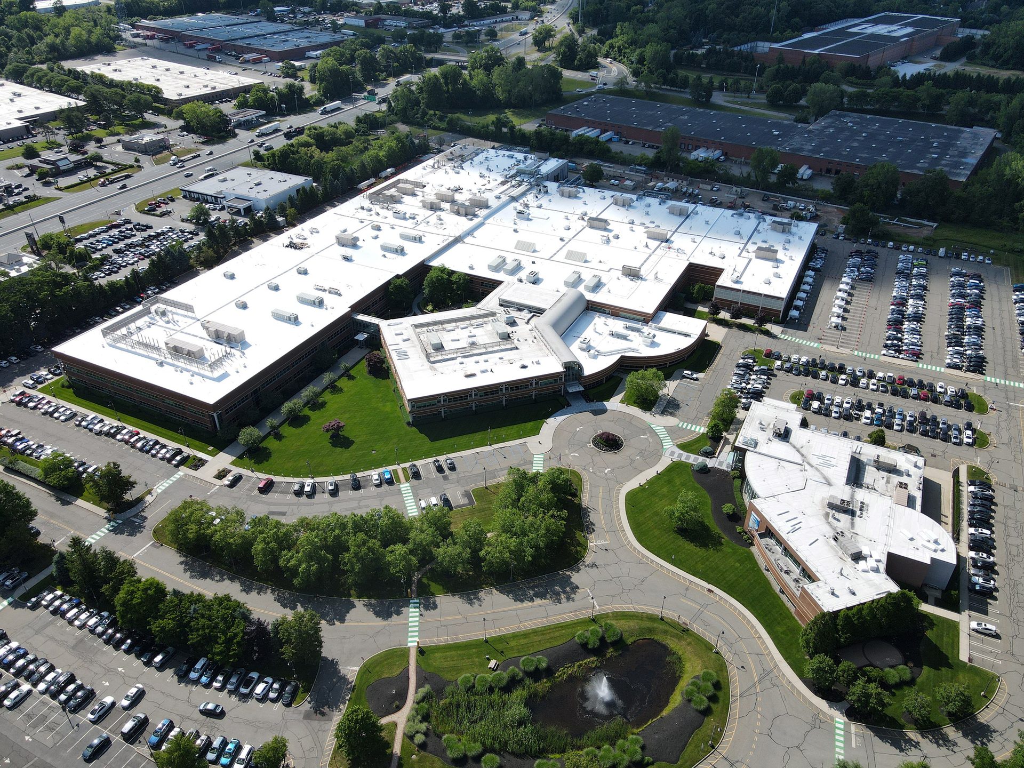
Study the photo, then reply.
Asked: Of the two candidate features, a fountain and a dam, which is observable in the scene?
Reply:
fountain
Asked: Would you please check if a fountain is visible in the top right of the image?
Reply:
No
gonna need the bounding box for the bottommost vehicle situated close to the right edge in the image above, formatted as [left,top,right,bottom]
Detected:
[969,621,999,637]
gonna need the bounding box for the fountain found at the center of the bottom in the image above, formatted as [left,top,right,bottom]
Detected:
[574,683,631,724]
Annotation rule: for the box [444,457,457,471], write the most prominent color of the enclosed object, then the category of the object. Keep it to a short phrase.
gray vehicle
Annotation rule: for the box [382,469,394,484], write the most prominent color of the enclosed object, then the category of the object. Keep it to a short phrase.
blue vehicle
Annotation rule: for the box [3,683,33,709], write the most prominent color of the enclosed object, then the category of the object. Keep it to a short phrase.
white car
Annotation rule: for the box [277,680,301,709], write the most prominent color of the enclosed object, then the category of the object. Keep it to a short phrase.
black car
